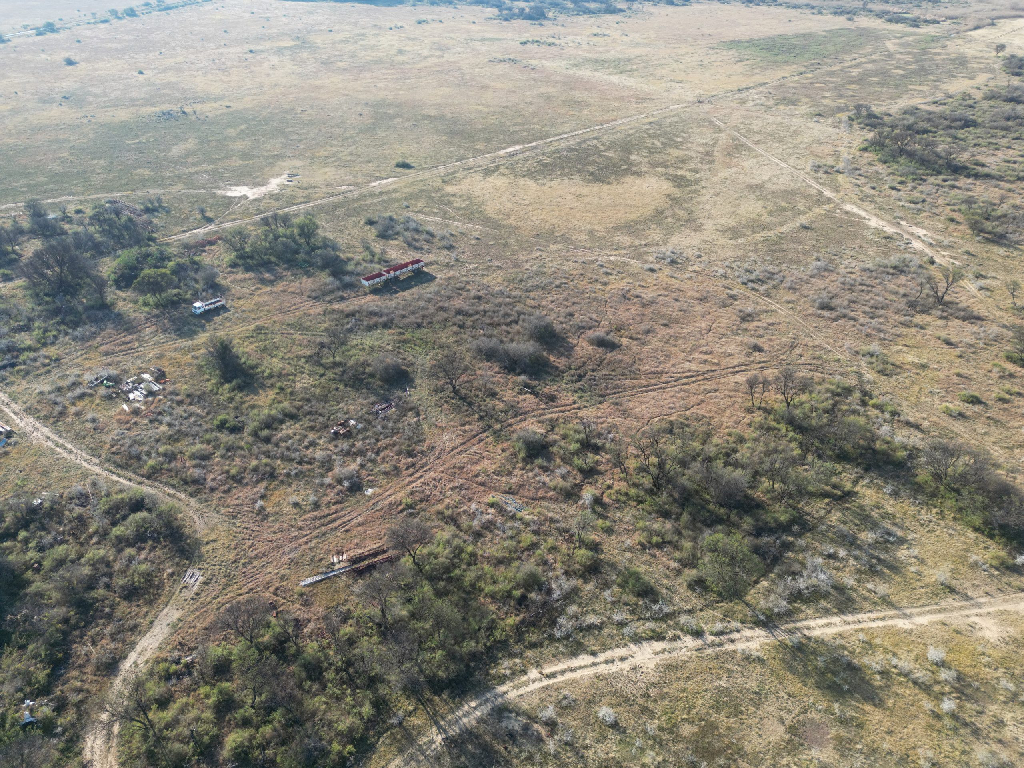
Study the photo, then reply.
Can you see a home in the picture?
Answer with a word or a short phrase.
No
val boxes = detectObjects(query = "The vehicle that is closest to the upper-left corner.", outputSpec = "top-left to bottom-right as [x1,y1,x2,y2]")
[192,297,226,315]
